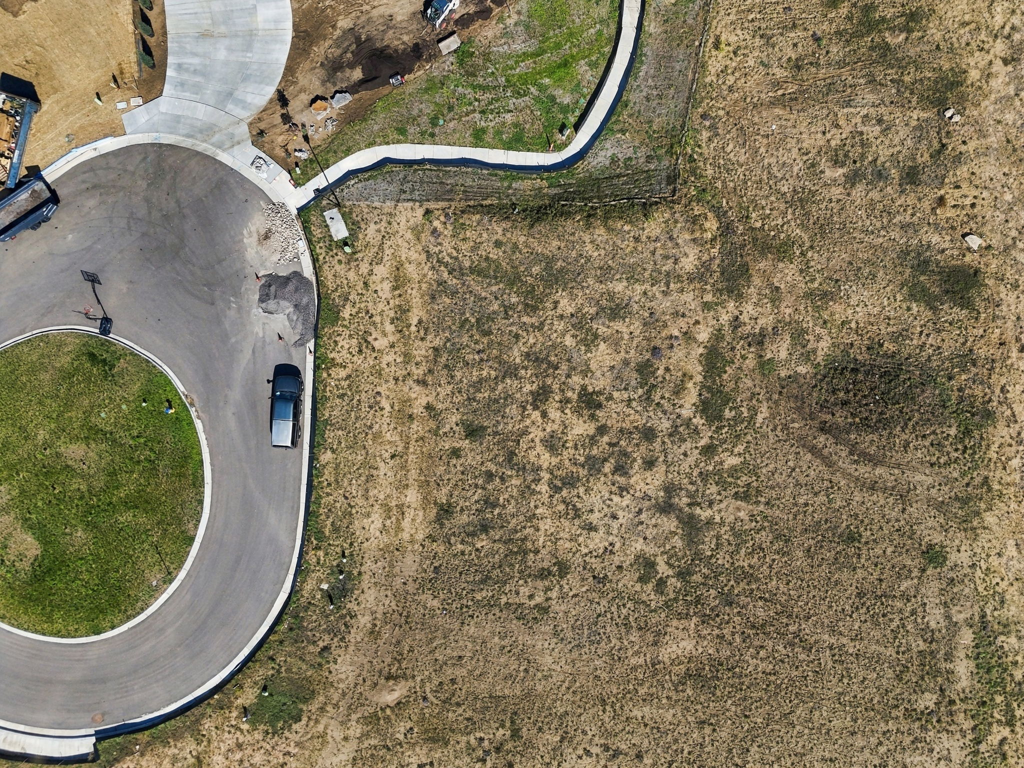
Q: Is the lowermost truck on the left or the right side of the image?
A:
left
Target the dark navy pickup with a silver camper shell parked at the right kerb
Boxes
[271,376,303,449]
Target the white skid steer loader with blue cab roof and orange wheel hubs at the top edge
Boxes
[421,0,459,38]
